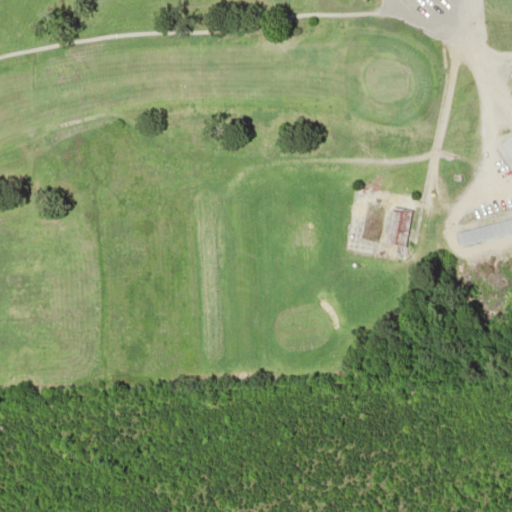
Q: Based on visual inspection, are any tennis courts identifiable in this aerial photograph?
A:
No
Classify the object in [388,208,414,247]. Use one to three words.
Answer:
barn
